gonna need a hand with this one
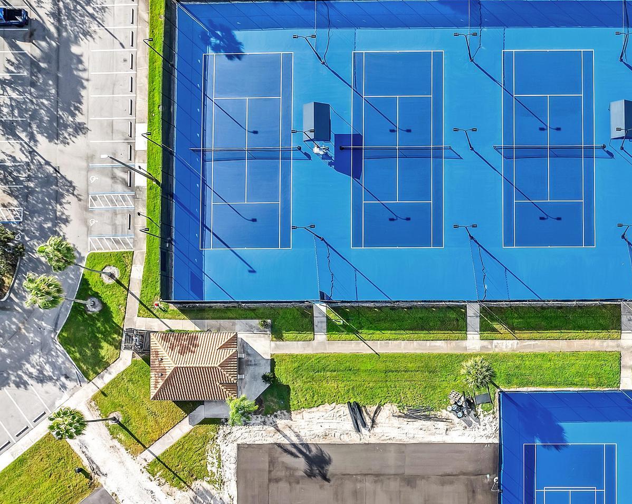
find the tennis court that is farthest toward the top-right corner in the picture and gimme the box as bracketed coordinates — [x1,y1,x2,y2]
[496,50,605,248]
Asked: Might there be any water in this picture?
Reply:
No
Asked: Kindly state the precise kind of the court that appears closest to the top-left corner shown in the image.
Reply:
tennis court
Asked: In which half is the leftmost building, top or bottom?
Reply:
bottom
